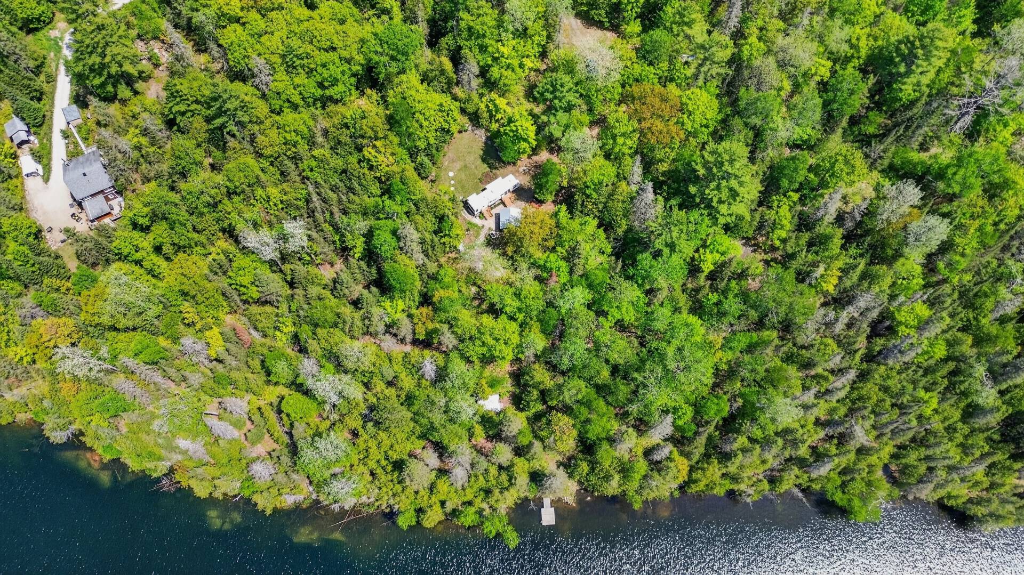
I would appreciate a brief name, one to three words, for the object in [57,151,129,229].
house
